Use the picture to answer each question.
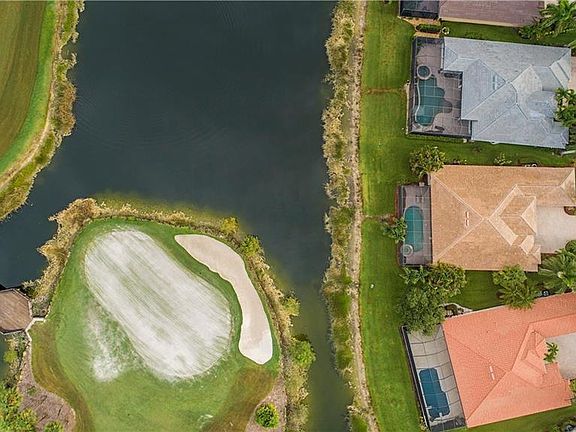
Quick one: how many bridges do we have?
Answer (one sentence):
There are no bridges in this view.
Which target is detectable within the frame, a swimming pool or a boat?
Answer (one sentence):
I can see a swimming pool in this picture.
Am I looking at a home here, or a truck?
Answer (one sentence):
I can see a home in this picture.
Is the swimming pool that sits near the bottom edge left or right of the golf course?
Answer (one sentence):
The golf course has the swimming pool that sits near the bottom edge on its right side.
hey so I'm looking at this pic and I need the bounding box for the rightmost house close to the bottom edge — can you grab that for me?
[442,292,576,428]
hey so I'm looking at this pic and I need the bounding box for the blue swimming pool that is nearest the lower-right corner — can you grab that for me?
[420,368,452,423]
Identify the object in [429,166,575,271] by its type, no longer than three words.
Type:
house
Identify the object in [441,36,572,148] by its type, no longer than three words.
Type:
house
